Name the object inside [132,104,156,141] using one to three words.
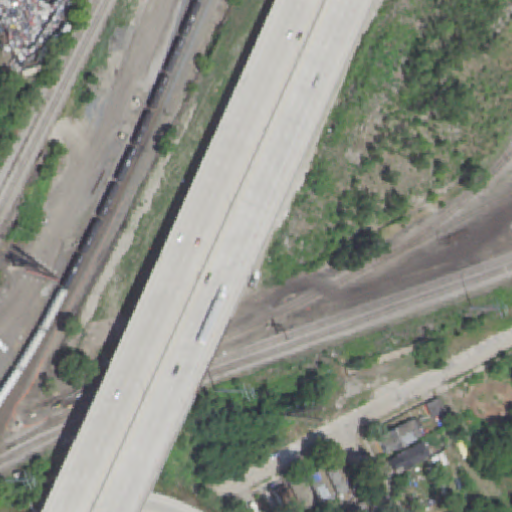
rail car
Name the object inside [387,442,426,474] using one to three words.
house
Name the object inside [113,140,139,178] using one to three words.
rail car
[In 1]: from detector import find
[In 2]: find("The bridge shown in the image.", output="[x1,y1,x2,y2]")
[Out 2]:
[40,0,382,512]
